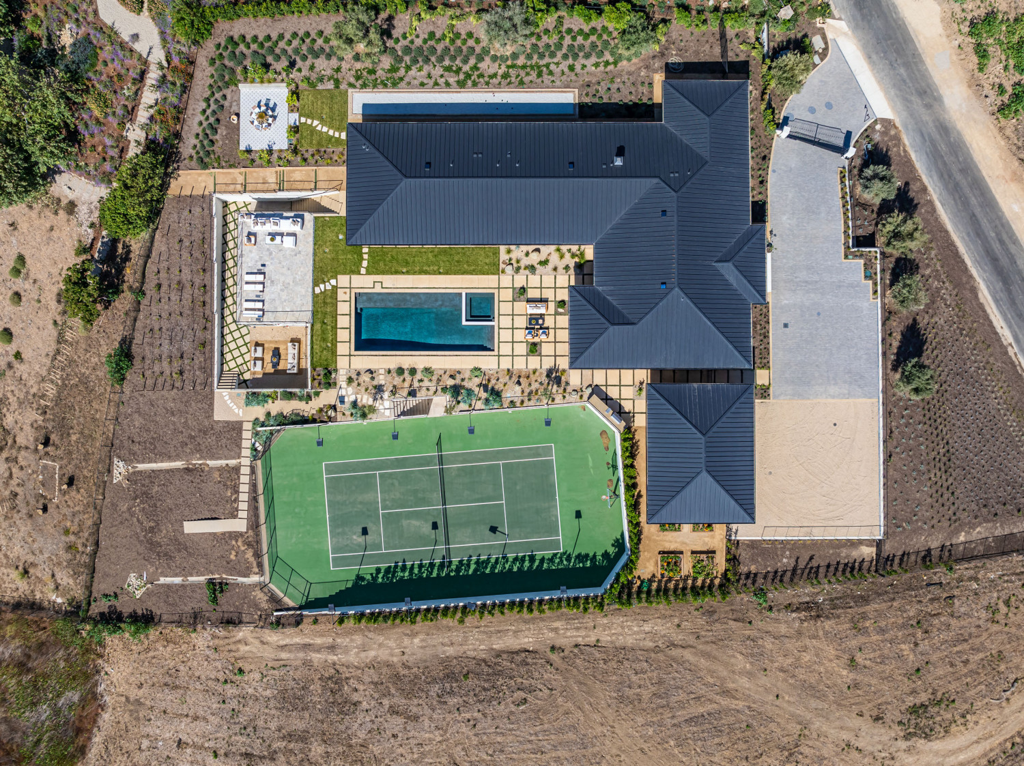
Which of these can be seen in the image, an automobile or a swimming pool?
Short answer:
swimming pool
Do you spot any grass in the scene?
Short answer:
Yes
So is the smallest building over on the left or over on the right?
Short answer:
right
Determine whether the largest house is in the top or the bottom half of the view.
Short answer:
top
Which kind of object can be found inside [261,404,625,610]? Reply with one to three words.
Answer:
tennis court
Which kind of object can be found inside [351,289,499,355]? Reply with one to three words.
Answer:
swimming pool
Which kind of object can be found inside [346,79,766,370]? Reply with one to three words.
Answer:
house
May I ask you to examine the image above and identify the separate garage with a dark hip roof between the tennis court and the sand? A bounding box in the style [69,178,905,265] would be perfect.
[646,382,756,525]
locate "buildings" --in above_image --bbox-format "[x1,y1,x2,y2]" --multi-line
[346,79,766,370]
[646,382,756,525]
